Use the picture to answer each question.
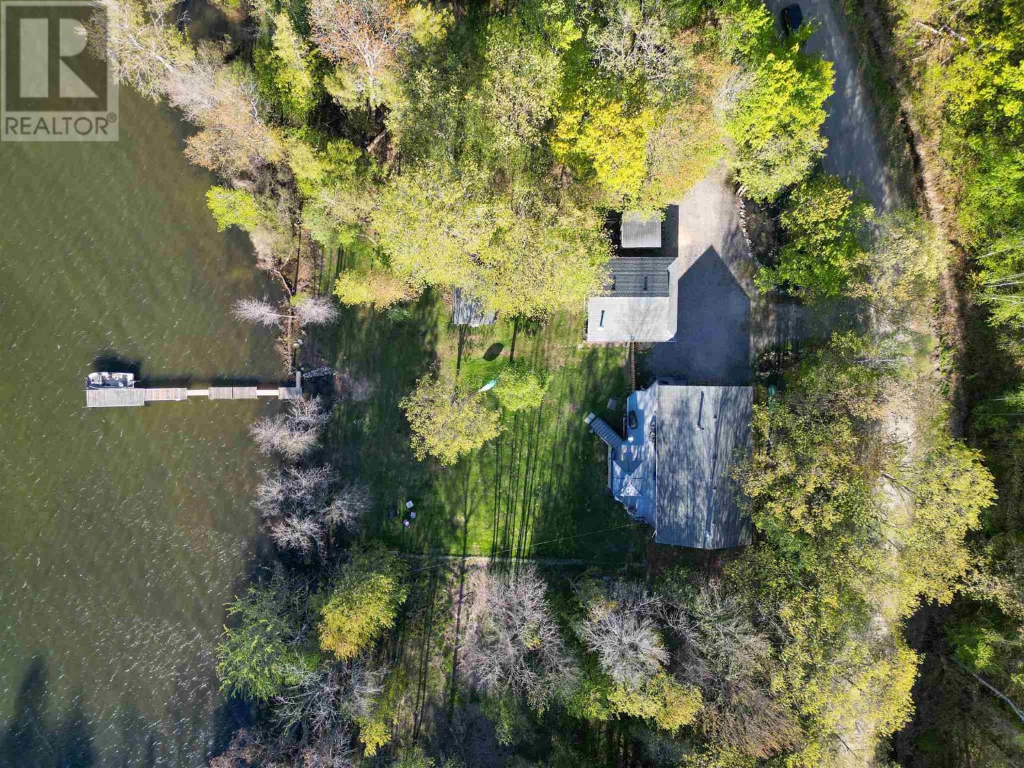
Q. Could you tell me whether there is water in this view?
Yes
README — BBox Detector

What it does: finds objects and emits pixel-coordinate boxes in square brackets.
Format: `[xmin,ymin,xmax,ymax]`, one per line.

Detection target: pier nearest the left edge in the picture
[86,386,145,408]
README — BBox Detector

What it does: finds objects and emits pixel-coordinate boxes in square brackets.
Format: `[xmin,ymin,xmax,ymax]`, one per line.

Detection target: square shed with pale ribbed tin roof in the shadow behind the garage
[618,206,662,251]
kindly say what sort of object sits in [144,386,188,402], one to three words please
pier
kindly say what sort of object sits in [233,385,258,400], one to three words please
pier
